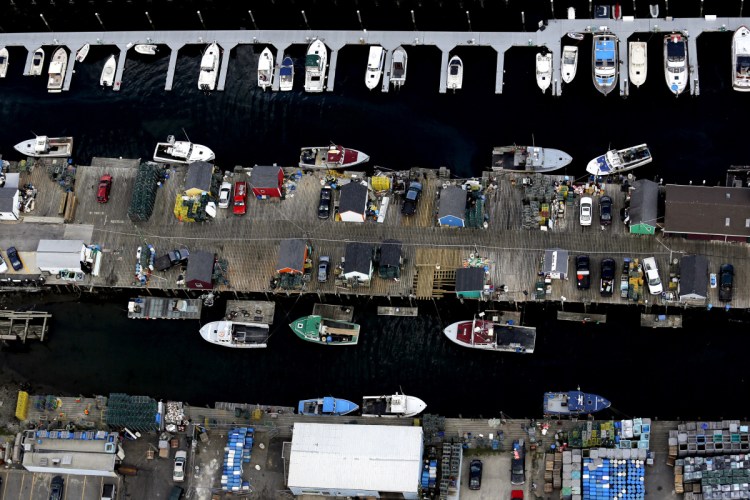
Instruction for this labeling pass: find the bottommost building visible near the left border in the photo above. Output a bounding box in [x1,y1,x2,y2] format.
[23,438,125,474]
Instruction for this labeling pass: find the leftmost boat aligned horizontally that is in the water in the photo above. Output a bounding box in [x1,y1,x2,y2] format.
[14,133,75,158]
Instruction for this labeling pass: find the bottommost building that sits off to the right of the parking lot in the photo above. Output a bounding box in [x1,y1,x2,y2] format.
[287,422,426,498]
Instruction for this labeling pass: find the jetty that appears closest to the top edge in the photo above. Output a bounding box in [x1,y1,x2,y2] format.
[0,18,750,97]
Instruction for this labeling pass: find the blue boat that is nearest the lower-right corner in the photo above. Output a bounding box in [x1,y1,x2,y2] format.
[543,392,611,417]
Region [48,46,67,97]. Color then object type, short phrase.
white boat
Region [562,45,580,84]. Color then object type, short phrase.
white boat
